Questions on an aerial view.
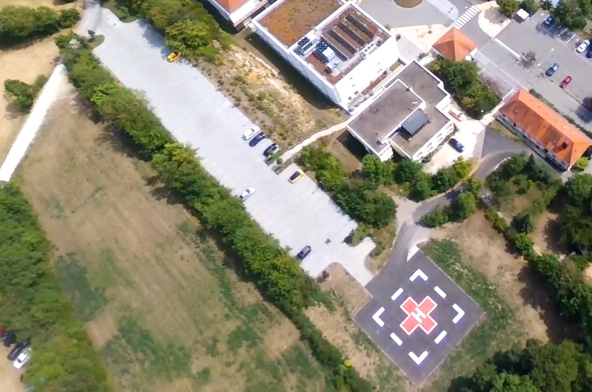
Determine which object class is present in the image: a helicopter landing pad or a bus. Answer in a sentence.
It is a helicopter landing pad that can be seen here.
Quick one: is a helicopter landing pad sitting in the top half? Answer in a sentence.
No, looking in the top half, there is no helicopter landing pad.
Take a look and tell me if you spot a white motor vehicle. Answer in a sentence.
Yes, this view includes a white motor vehicle.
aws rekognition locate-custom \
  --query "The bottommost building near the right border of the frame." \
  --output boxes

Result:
[499,88,592,173]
